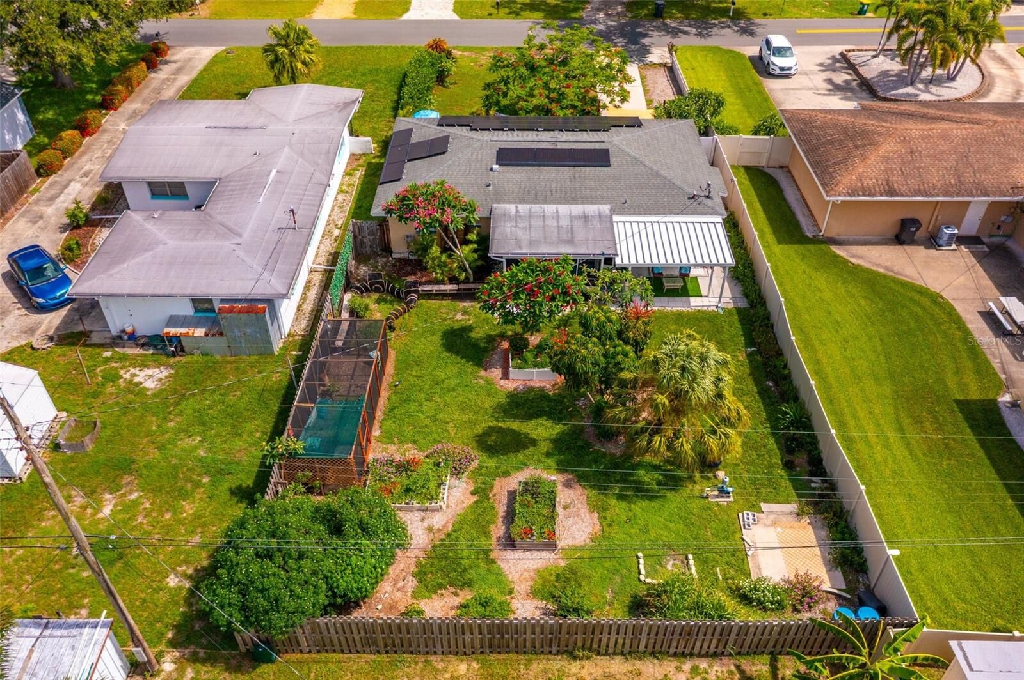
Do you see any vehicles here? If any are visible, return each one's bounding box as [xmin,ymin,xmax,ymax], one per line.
[5,247,69,312]
[757,35,801,74]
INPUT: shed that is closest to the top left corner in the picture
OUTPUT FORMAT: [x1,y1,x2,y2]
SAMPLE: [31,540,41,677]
[0,80,34,150]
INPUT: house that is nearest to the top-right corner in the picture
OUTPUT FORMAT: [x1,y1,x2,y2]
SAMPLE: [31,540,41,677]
[774,101,1024,261]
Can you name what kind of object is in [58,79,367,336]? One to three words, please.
house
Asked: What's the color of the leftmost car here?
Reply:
blue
